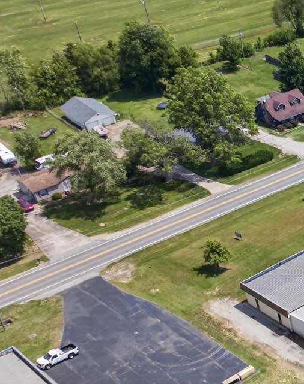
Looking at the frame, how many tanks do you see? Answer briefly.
0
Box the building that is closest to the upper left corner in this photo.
[67,92,123,131]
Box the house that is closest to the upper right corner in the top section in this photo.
[250,89,304,128]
